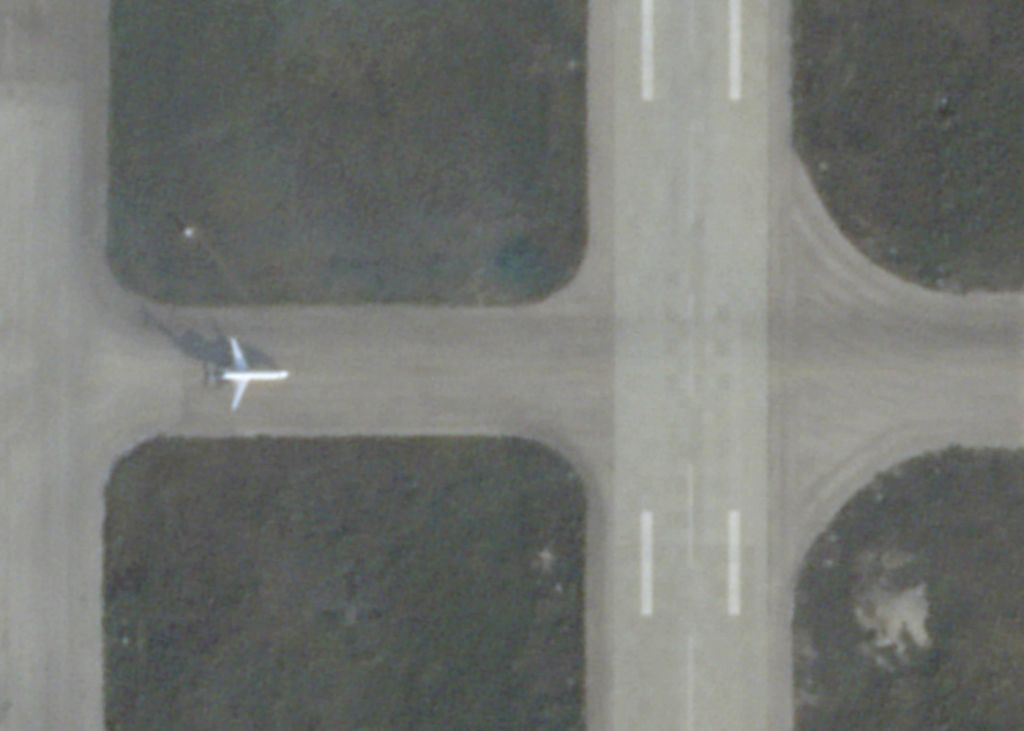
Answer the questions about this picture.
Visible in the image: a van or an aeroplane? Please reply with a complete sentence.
The one in the frame is an aeroplane.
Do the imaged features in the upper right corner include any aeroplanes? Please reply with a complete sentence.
No, there is no aeroplane in the upper right corner.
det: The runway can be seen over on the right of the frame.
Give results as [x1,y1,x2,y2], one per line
[615,0,767,731]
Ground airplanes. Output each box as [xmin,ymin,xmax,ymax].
[202,340,288,412]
